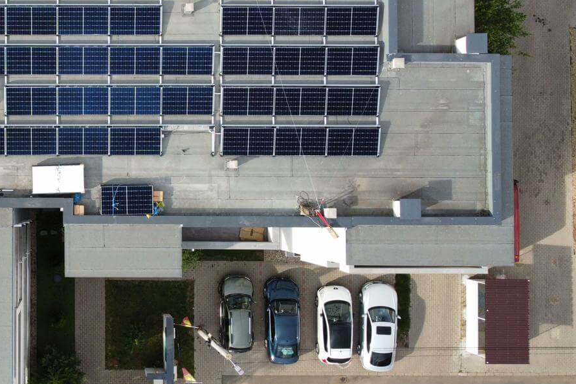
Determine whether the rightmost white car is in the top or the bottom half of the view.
bottom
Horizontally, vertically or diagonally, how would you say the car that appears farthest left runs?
vertically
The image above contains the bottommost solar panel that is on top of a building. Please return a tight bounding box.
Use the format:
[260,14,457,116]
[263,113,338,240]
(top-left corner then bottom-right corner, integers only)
[102,186,153,214]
